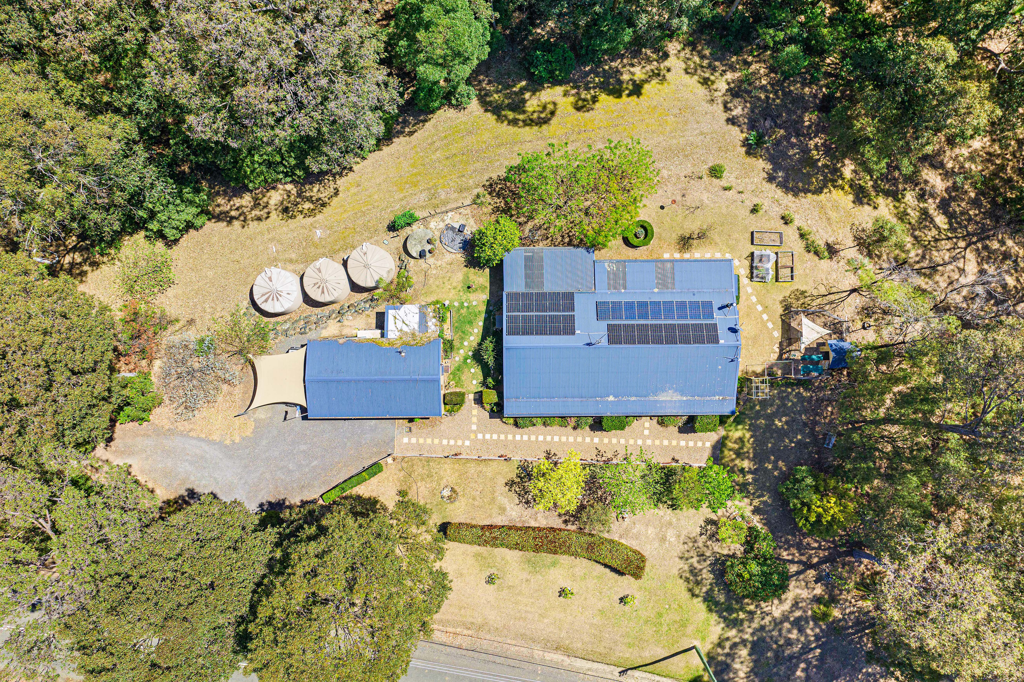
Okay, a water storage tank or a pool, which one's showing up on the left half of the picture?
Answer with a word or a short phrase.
water storage tank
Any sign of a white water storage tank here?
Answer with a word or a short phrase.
Yes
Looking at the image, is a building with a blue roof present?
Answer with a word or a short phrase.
Yes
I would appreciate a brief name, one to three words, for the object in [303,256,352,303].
water tank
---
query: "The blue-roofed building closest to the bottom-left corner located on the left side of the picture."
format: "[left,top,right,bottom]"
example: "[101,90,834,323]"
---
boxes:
[305,337,444,420]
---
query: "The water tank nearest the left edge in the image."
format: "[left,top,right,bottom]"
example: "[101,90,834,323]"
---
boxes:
[252,265,304,312]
